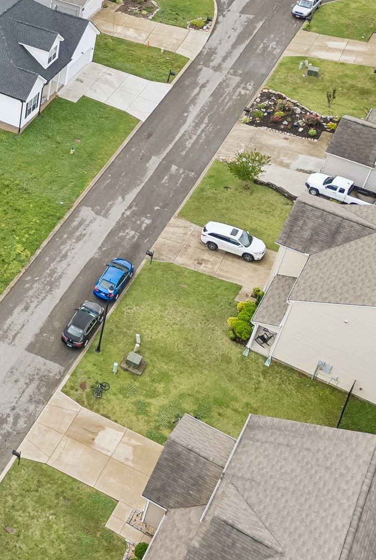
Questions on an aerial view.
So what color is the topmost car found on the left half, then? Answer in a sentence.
The topmost car found on the left half is blue.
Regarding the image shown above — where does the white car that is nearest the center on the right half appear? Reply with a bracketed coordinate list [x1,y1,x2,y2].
[201,223,269,265]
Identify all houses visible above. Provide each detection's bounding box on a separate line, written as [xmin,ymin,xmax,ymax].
[323,107,376,186]
[139,411,376,560]
[234,198,376,406]
[0,0,101,136]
